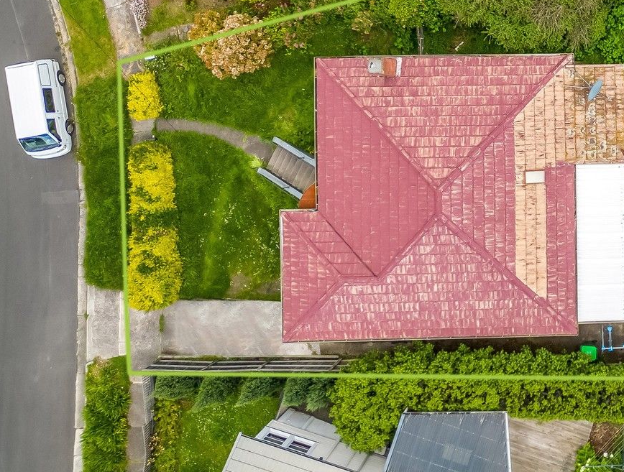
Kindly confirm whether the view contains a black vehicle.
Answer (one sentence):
No, no black vehicle is visible in the view.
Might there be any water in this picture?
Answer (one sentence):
No, water can't be seen anywhere here.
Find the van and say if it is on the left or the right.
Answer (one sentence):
You can find the van on the left side of the picture.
